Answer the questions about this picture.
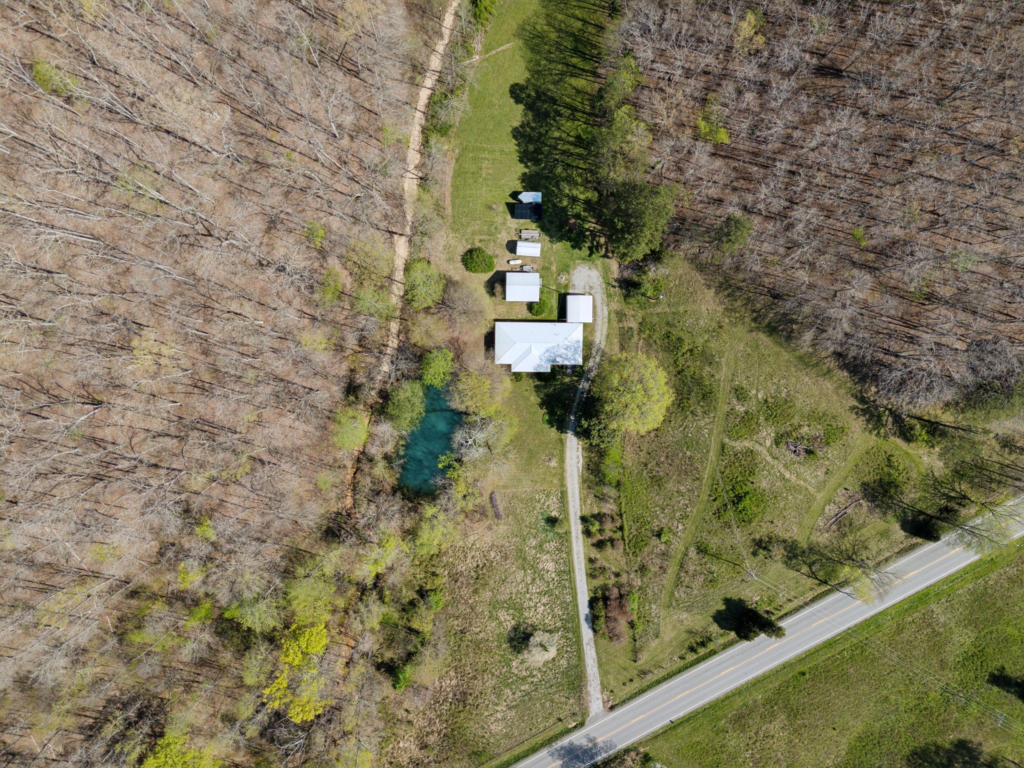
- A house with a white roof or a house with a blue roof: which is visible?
house with a white roof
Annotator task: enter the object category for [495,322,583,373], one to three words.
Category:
house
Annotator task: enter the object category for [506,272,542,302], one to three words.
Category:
building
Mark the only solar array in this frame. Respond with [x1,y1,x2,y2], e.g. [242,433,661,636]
[515,204,542,220]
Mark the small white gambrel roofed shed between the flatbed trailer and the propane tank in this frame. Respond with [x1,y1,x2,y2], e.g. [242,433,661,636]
[517,241,541,257]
